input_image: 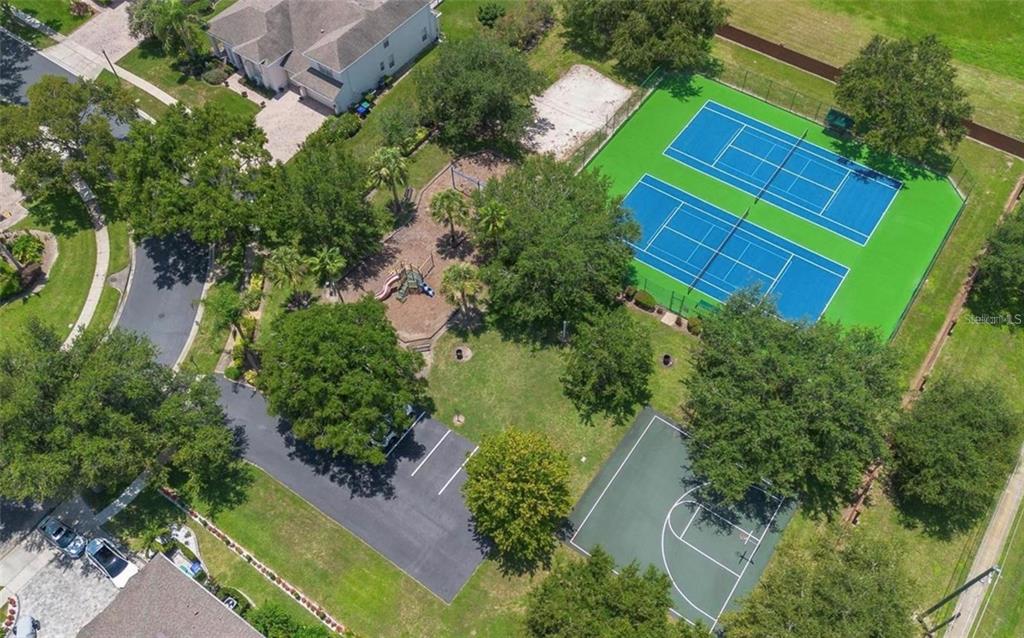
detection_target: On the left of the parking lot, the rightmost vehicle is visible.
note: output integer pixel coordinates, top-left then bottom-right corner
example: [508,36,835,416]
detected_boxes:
[79,539,134,590]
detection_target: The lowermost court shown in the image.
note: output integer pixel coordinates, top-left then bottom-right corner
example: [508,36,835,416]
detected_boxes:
[556,407,802,638]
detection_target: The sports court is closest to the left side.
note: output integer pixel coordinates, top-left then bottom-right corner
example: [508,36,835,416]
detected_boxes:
[508,60,636,169]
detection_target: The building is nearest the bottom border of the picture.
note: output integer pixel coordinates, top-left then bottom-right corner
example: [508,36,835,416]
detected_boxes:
[69,556,265,638]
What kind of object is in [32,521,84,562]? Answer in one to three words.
car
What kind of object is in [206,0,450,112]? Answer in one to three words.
house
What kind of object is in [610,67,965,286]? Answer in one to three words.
tennis court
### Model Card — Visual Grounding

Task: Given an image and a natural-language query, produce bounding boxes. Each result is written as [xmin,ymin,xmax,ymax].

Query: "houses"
[69,556,265,638]
[206,0,450,112]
